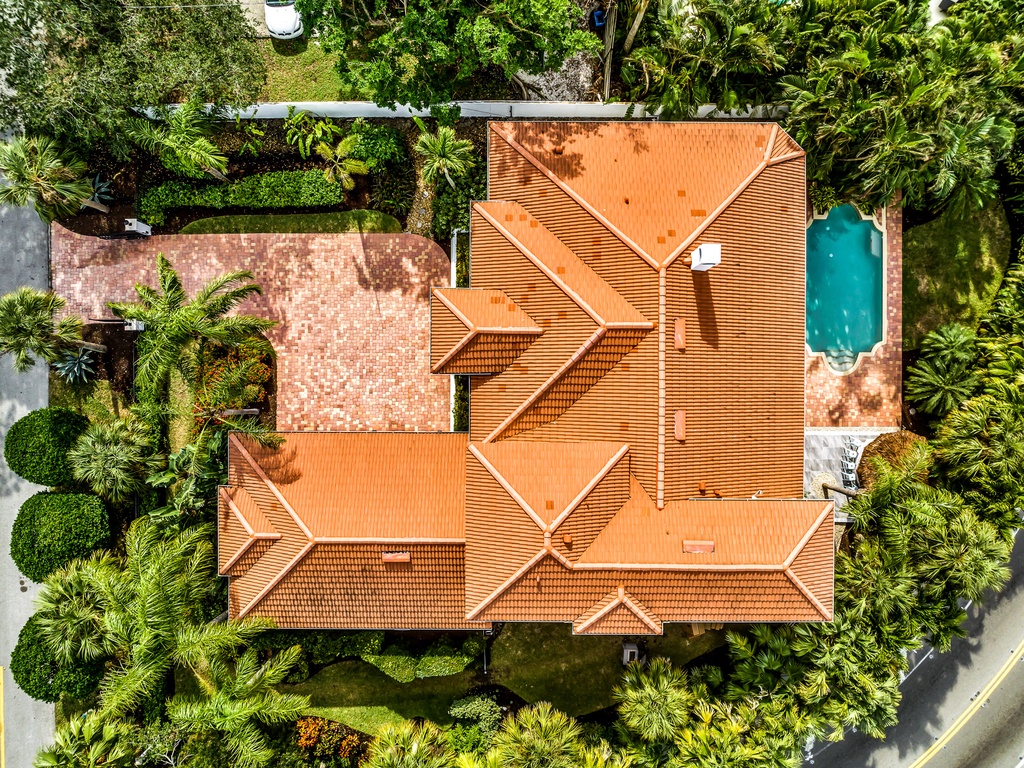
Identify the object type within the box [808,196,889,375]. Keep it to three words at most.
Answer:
swimming pool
